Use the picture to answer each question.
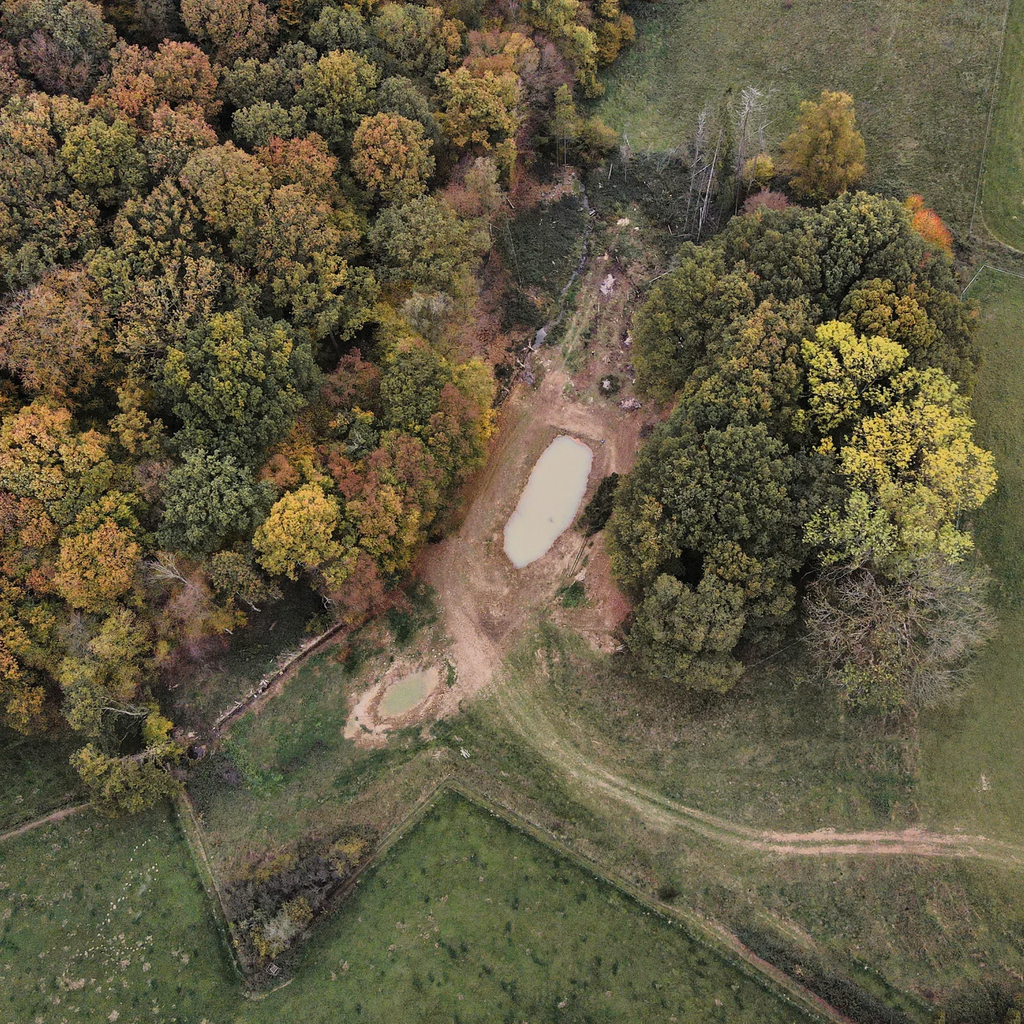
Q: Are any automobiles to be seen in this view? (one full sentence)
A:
No, I can't see a single automobile in this photo.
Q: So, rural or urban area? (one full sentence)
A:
From above, the setting appears rural.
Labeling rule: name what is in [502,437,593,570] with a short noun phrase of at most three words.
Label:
pond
